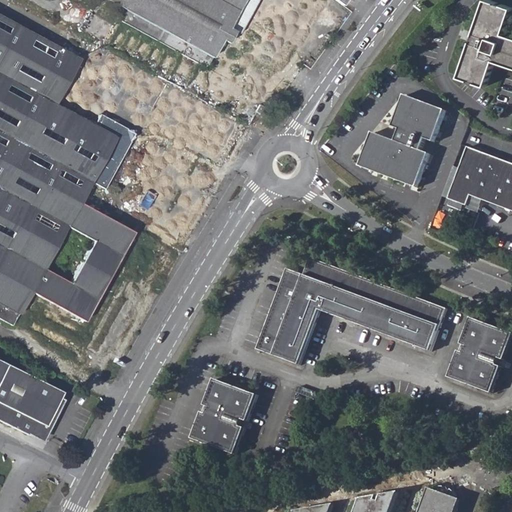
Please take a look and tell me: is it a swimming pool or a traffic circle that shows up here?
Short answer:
traffic circle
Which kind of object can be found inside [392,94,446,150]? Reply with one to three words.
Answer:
building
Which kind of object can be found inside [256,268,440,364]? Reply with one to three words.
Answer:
building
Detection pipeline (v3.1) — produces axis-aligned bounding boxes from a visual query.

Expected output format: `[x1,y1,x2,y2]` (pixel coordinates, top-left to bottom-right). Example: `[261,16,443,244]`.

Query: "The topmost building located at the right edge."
[454,2,512,90]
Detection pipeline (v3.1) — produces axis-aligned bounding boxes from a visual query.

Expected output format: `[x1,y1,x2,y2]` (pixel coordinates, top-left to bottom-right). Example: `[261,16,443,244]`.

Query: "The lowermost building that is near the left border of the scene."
[0,358,72,442]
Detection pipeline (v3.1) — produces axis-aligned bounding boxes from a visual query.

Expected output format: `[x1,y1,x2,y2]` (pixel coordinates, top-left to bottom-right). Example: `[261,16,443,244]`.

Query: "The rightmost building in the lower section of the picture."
[446,316,512,392]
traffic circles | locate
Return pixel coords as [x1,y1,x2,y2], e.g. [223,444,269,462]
[255,134,318,196]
